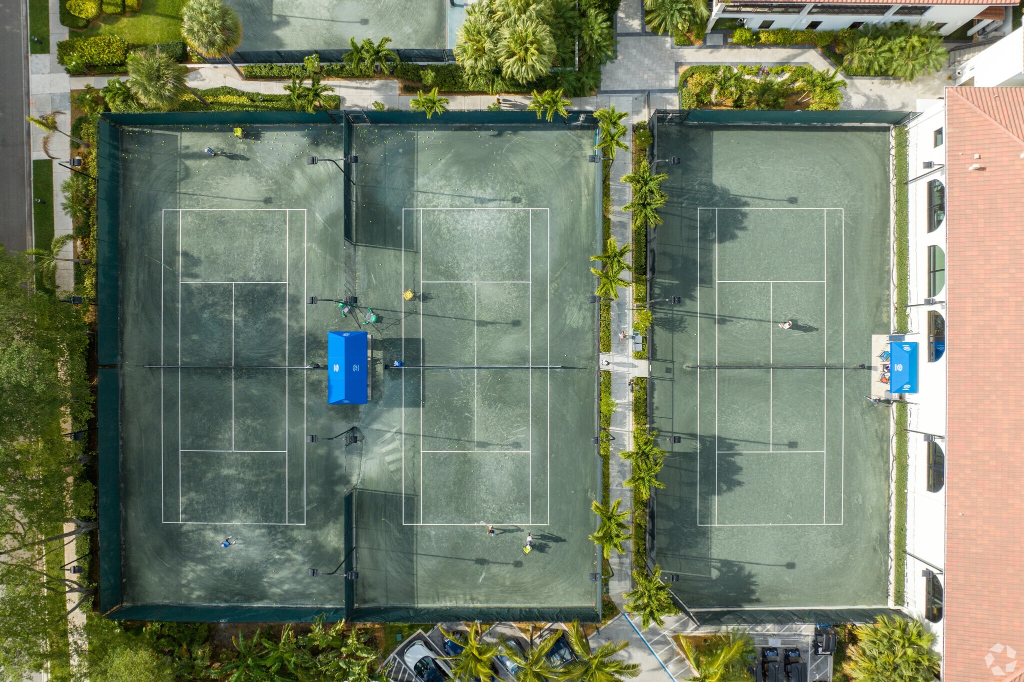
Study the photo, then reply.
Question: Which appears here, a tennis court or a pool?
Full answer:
There is a tennis court in the scene.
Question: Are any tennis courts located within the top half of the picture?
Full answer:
Yes, I can see a tennis court within the top half of the picture.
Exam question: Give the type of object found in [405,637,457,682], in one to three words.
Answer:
car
